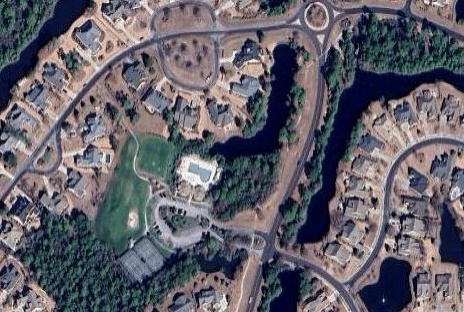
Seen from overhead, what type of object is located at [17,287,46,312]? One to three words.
house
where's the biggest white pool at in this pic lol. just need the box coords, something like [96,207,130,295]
[176,154,218,189]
